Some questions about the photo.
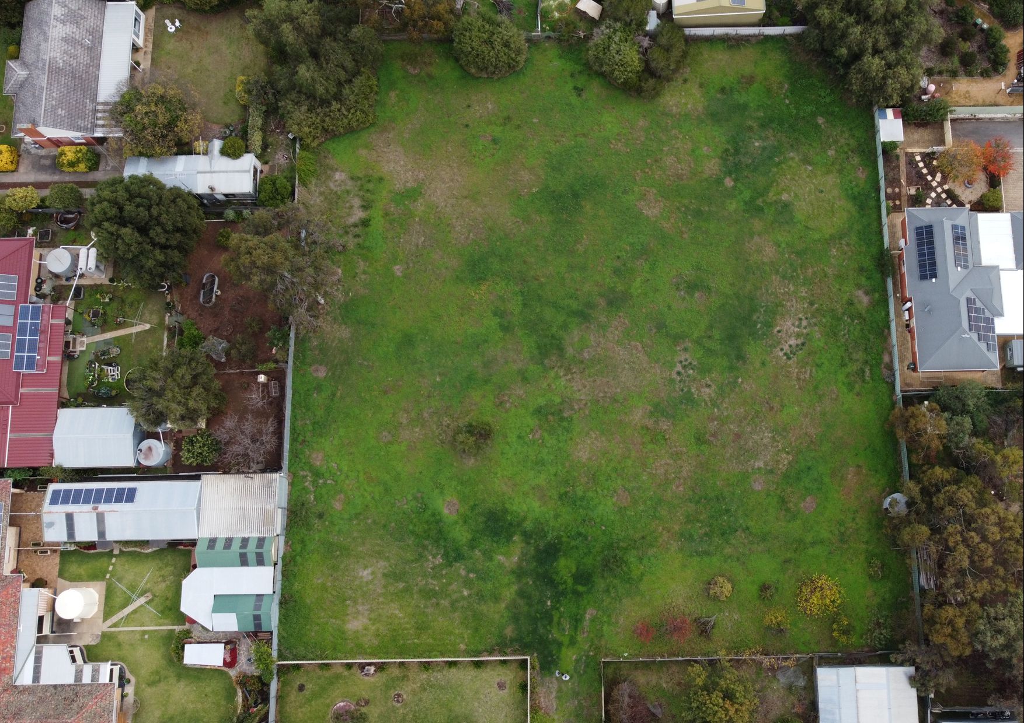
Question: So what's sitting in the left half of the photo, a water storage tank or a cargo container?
water storage tank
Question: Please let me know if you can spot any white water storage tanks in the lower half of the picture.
Yes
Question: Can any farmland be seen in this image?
Yes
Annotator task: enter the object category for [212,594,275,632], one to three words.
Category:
shed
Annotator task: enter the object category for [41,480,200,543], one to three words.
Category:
shed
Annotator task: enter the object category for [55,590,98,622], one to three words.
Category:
water tank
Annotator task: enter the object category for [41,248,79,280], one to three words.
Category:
water tank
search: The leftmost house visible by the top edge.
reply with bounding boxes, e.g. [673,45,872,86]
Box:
[2,0,115,149]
